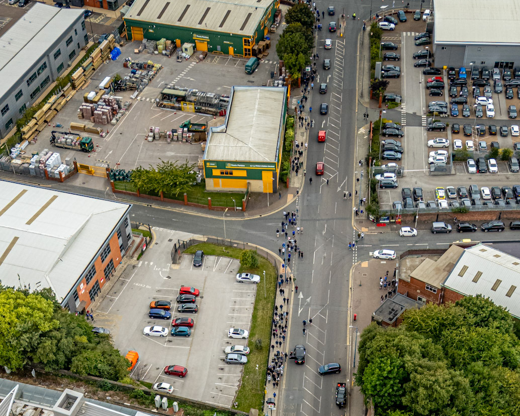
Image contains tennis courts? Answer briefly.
No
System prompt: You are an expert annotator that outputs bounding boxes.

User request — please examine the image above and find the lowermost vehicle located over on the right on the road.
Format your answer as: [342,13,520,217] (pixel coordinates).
[334,385,348,408]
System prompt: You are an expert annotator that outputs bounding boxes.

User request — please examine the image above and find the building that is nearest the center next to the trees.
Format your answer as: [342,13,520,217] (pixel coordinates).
[202,86,290,193]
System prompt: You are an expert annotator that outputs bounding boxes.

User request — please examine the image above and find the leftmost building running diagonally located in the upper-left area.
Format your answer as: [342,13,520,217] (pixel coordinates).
[0,2,88,141]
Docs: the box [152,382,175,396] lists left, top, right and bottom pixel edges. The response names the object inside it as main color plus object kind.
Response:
white car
